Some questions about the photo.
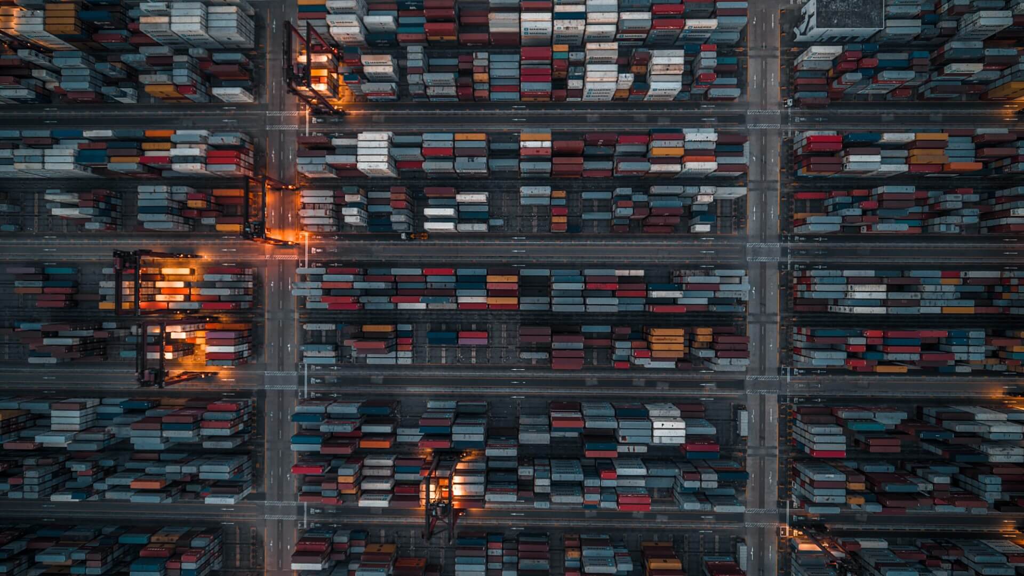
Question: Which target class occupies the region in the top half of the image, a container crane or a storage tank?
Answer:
container crane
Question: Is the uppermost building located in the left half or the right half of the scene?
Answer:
right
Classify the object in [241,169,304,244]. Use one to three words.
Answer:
container crane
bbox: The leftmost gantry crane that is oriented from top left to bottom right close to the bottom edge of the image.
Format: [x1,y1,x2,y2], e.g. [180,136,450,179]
[790,532,861,576]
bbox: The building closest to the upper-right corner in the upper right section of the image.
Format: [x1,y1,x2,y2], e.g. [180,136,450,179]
[794,0,884,41]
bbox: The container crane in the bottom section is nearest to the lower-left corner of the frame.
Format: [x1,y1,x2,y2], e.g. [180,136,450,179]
[140,315,218,389]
